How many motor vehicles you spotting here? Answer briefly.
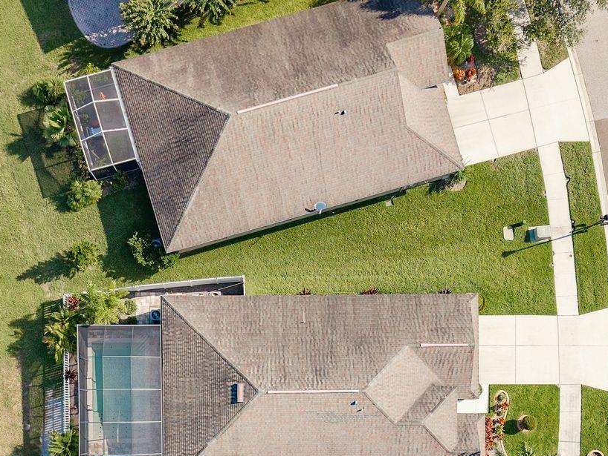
zero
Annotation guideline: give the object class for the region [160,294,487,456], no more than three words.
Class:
house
